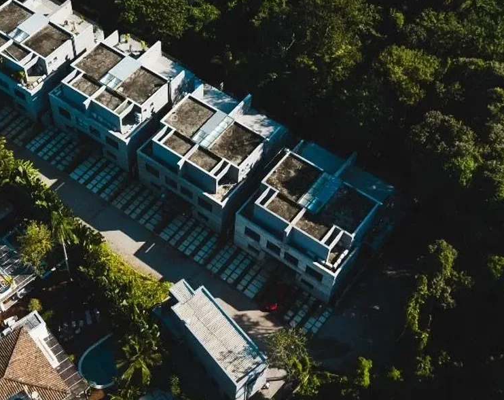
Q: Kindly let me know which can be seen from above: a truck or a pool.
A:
pool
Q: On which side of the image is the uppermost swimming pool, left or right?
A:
left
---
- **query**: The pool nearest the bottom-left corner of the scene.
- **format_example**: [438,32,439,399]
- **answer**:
[77,334,137,389]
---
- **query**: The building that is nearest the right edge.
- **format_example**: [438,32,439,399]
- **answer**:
[234,139,400,302]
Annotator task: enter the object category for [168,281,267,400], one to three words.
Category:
building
